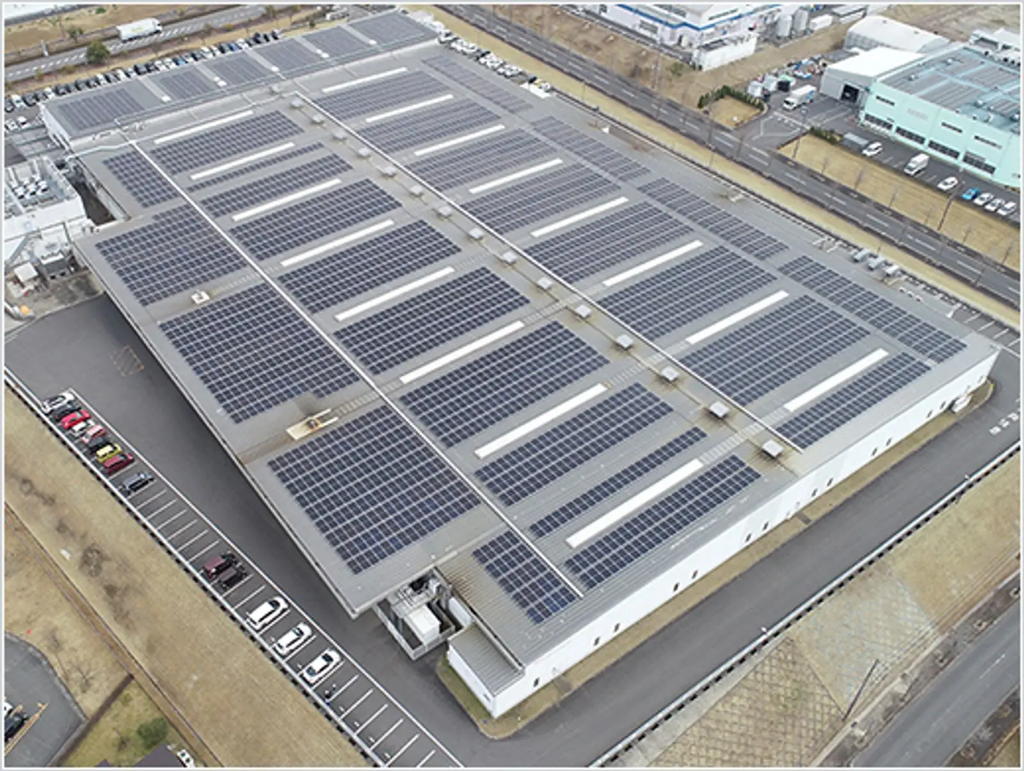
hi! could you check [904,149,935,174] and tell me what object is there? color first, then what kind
white vehicle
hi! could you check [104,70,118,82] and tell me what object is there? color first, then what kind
gray vehicle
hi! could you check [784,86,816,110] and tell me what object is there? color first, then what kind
white truck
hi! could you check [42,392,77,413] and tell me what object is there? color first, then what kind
white car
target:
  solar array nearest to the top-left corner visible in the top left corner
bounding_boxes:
[58,87,144,128]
